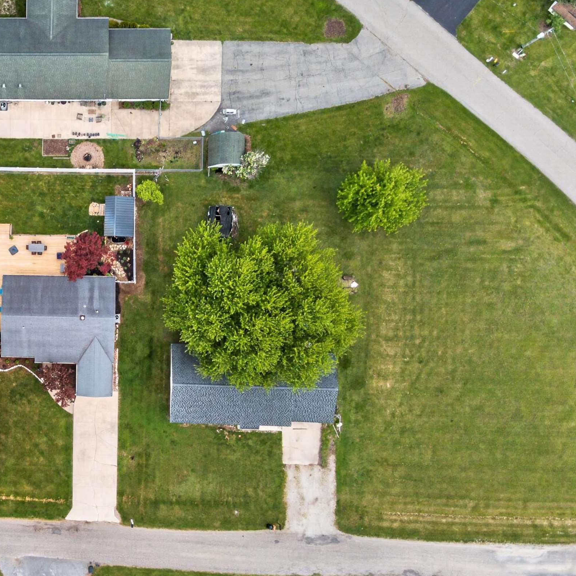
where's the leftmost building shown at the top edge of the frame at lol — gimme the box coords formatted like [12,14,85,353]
[0,0,172,101]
